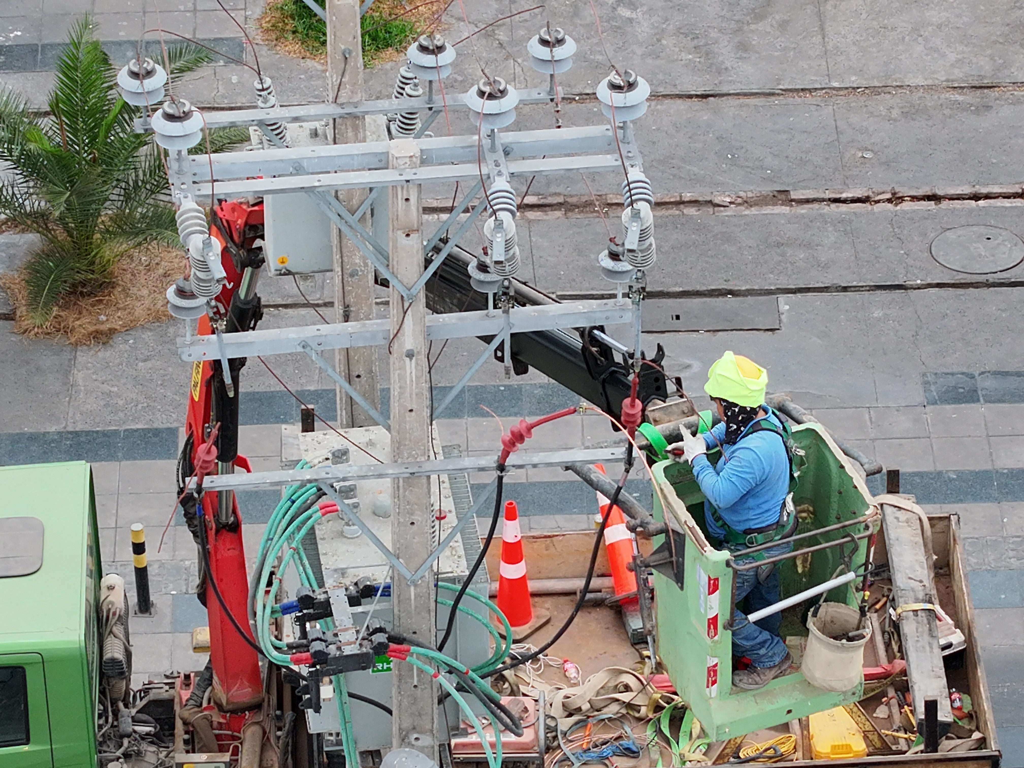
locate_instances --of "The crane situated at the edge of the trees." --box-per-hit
[178,172,692,768]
